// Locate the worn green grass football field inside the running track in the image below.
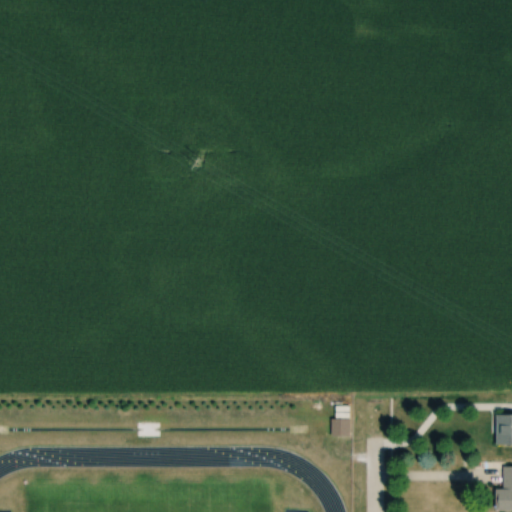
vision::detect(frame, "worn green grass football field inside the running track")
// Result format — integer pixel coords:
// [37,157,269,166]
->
[20,470,286,512]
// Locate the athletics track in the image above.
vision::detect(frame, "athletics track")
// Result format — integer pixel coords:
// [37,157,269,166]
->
[0,448,345,512]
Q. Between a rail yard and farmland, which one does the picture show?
farmland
